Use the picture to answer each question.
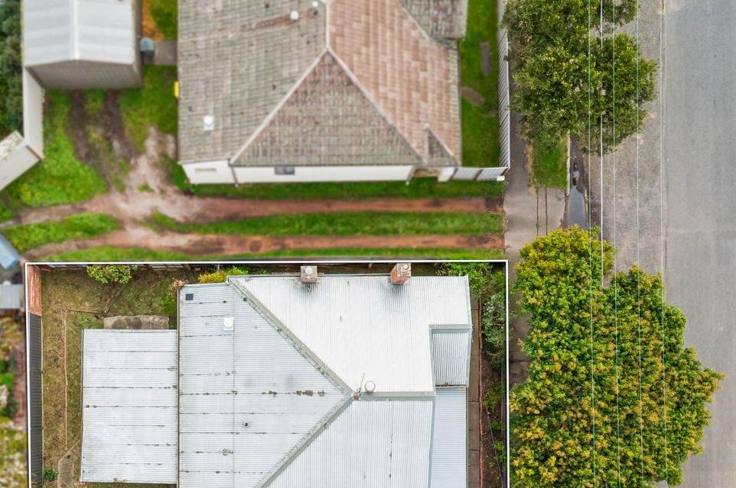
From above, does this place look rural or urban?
urban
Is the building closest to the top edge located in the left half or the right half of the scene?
left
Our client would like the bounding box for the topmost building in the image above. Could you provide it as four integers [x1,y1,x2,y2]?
[20,0,146,89]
